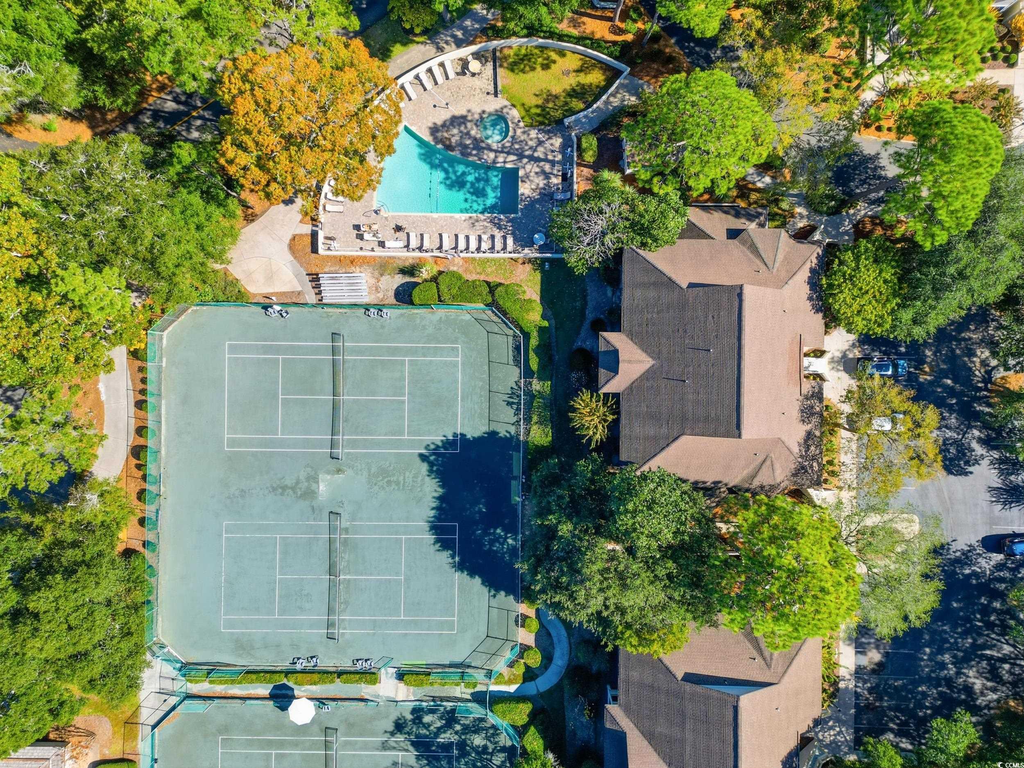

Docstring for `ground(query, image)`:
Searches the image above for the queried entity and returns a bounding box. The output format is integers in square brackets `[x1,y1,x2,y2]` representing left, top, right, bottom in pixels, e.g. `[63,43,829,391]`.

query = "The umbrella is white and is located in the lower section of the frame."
[289,696,316,724]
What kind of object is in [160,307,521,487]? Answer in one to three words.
tennis court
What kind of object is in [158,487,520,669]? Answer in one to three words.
tennis court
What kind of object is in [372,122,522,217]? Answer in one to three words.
swimming pool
